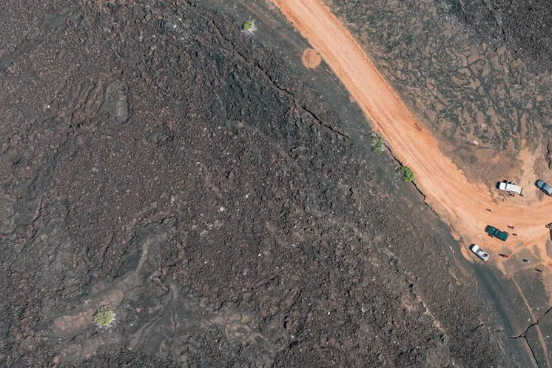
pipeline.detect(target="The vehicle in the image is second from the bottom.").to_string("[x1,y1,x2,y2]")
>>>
[487,226,509,242]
